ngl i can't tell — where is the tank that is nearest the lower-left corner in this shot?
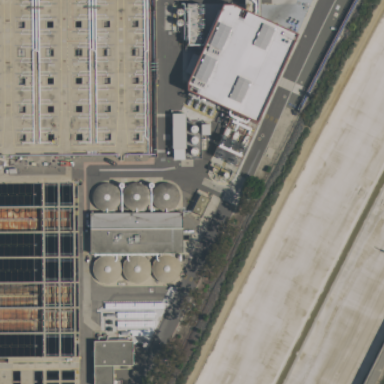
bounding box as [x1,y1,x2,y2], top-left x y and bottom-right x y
[92,255,122,284]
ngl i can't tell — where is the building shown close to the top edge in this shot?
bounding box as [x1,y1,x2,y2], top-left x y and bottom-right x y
[188,4,298,121]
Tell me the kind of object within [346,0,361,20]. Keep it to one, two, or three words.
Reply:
rail car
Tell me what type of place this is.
industrial area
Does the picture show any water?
Yes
